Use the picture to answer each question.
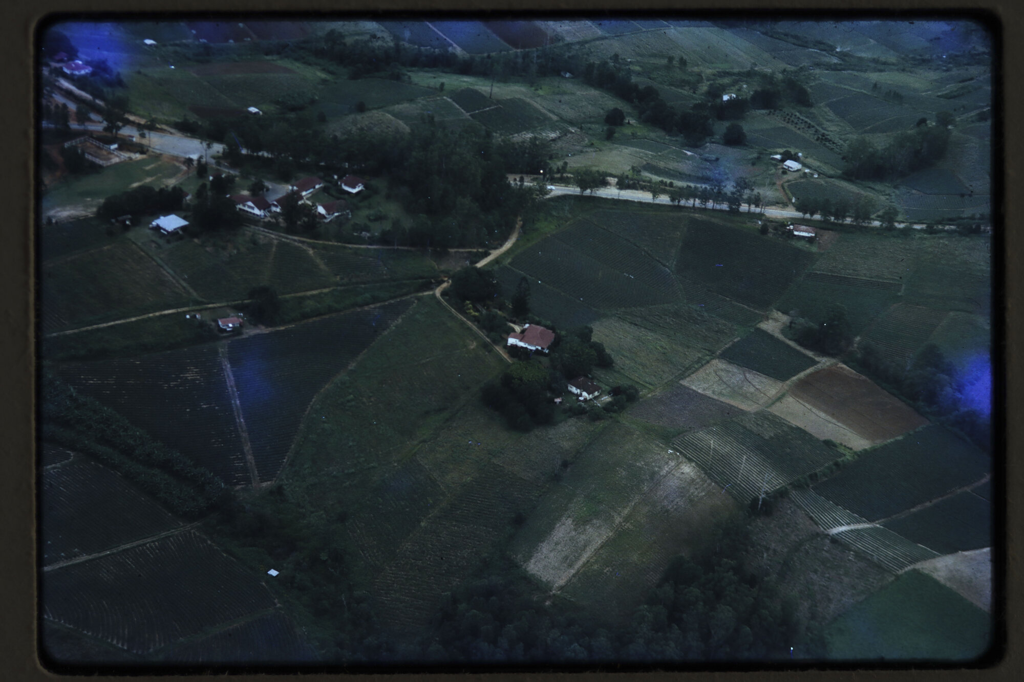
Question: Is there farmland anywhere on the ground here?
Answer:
Yes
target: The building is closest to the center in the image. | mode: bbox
[509,326,562,360]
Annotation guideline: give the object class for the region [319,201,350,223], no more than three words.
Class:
building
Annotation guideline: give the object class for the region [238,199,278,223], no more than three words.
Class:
building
